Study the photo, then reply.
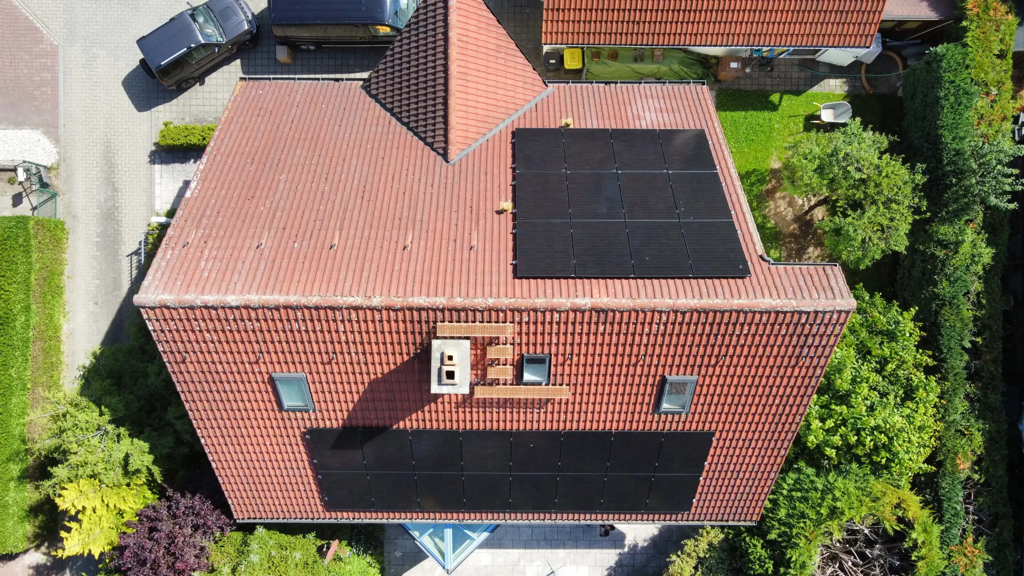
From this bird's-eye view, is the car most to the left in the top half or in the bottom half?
top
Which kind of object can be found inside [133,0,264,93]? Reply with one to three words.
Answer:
car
